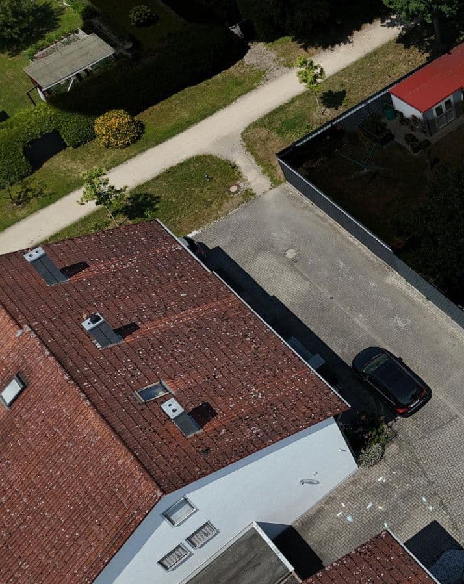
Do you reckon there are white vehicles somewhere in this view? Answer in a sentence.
No, there appears to be no white vehicle in this shot.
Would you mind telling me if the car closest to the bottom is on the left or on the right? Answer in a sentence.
The car closest to the bottom sits on the right side.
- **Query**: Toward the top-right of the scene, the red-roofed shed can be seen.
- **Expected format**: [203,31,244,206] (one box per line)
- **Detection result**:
[389,38,464,137]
